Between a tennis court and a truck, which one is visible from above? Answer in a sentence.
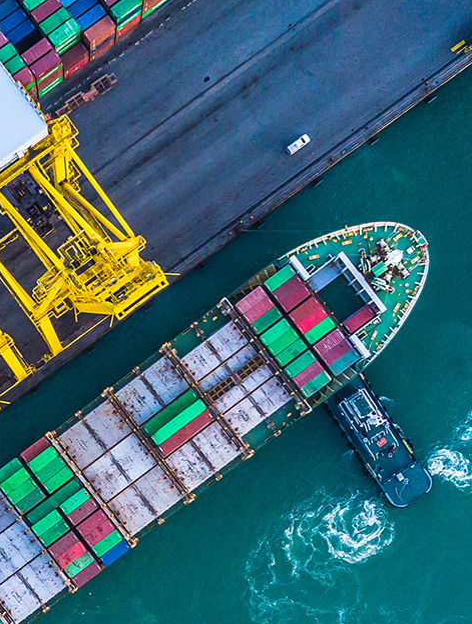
Of the two, only a truck appears.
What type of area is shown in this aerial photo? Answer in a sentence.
The picture captures a port.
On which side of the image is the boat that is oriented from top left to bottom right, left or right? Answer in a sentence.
It is on the right.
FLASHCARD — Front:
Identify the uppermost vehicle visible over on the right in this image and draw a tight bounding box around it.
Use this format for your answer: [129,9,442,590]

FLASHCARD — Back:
[285,133,311,155]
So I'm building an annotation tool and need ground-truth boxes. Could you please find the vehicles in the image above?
[46,71,120,125]
[285,133,311,155]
